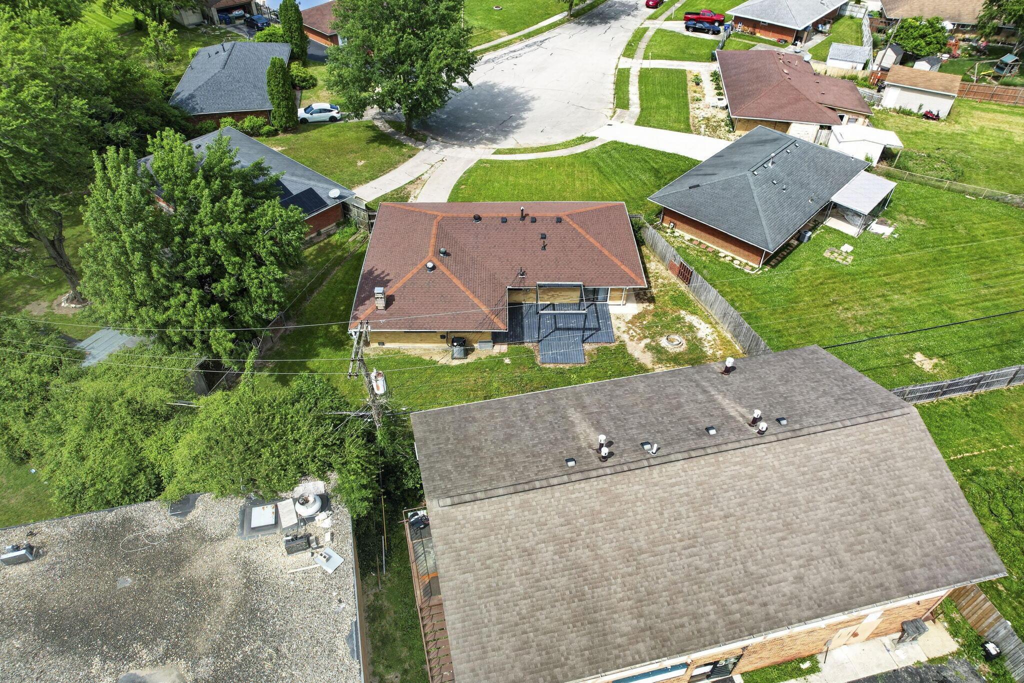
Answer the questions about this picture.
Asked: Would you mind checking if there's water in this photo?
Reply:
No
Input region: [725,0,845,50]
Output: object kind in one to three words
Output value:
house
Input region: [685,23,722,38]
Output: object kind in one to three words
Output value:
car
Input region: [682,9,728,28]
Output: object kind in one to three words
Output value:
vehicle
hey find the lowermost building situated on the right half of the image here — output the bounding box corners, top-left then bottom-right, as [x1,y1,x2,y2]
[411,345,1006,683]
